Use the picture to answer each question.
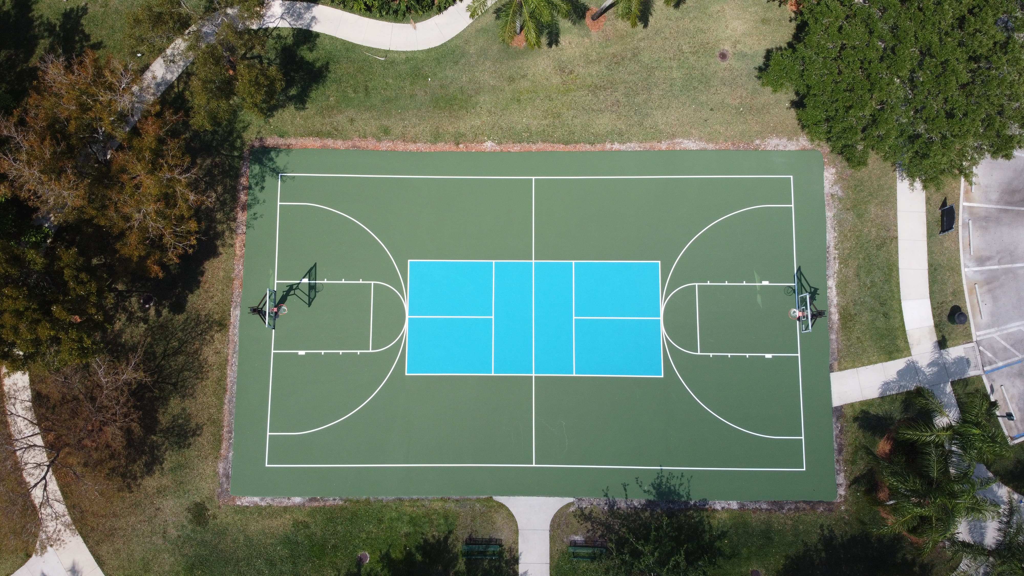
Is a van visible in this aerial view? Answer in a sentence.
No, there isn't any van down there.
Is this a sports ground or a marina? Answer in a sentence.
The area seen from above is a sports ground.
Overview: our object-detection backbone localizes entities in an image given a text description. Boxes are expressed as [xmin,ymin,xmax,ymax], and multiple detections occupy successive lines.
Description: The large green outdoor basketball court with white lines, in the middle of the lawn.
[230,148,838,502]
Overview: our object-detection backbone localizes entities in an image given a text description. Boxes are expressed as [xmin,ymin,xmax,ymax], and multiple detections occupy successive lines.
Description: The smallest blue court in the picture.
[406,260,663,377]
